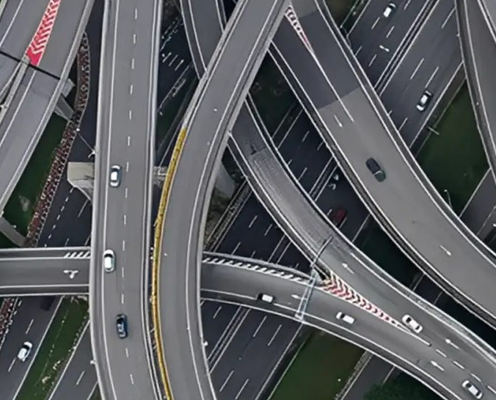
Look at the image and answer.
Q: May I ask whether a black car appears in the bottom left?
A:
Yes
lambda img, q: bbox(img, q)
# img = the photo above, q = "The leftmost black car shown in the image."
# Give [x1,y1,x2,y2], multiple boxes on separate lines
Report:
[39,296,56,313]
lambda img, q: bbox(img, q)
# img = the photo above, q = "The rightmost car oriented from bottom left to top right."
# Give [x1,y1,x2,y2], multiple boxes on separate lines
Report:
[415,89,433,111]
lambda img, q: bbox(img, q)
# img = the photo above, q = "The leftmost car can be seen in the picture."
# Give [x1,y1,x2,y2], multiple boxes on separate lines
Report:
[17,340,33,361]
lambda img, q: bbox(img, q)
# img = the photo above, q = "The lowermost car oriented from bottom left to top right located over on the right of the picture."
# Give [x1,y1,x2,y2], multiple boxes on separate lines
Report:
[330,203,347,223]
